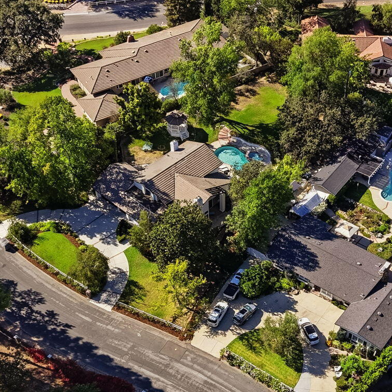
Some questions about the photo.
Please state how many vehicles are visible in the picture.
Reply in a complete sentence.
The photo contains 4 vehicles.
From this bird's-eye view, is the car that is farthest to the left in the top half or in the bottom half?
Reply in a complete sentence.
The bottom half of the photo is where the car that is farthest to the left is.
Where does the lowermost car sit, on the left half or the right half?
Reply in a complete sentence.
You can find the lowermost car on the right side of the picture.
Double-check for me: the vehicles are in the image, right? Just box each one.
[221,265,246,300]
[204,297,229,329]
[296,314,323,347]
[229,297,260,329]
